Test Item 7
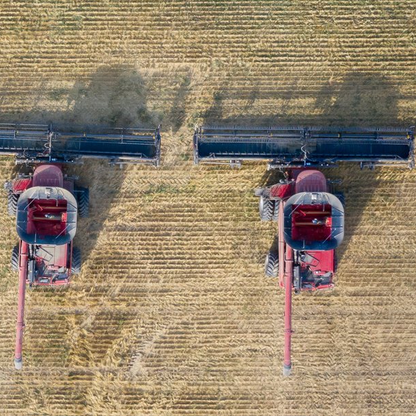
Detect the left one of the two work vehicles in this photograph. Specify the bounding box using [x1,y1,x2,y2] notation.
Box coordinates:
[0,118,162,368]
